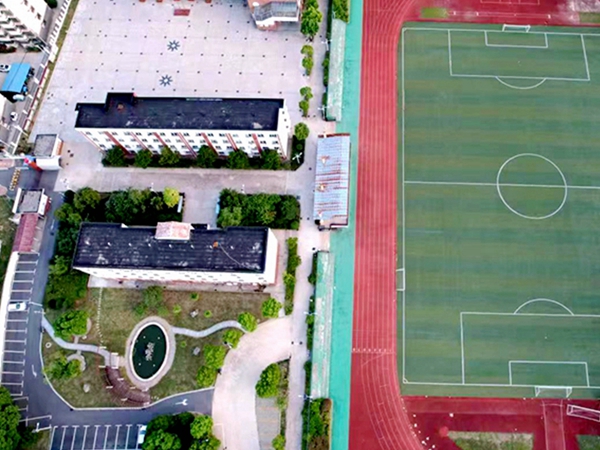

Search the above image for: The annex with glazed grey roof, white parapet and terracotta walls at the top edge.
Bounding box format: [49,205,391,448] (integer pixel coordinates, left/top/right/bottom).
[248,0,300,30]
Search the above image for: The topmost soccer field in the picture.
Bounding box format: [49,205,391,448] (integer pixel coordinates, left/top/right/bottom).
[396,20,600,408]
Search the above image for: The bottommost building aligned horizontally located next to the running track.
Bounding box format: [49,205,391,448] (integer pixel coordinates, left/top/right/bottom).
[72,220,278,282]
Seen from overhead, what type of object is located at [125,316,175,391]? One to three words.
pond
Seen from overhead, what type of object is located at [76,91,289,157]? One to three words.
building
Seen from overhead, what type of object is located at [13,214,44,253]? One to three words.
shed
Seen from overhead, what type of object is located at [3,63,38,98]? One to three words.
shed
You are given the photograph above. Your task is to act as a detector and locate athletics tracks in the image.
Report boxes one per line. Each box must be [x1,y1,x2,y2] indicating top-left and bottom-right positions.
[350,0,600,450]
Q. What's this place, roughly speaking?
sports ground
